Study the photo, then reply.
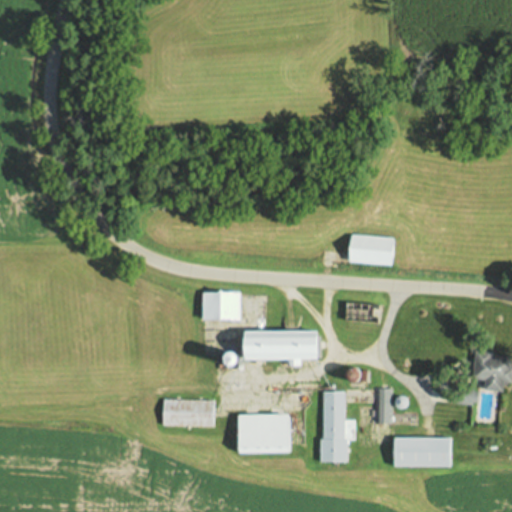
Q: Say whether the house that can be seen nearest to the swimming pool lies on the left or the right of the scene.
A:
right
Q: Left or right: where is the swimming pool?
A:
right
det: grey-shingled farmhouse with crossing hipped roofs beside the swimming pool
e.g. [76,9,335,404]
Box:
[475,351,512,390]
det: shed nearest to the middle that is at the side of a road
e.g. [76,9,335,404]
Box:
[202,291,242,322]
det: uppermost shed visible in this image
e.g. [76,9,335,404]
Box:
[350,235,395,266]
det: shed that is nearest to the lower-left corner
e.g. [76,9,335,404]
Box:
[162,396,216,430]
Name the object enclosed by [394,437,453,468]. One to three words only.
shed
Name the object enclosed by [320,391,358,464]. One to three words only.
building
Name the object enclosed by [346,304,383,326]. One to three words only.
shed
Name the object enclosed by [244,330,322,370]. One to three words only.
building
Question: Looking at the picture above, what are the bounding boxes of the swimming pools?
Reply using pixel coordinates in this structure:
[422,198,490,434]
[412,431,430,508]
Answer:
[476,388,498,424]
